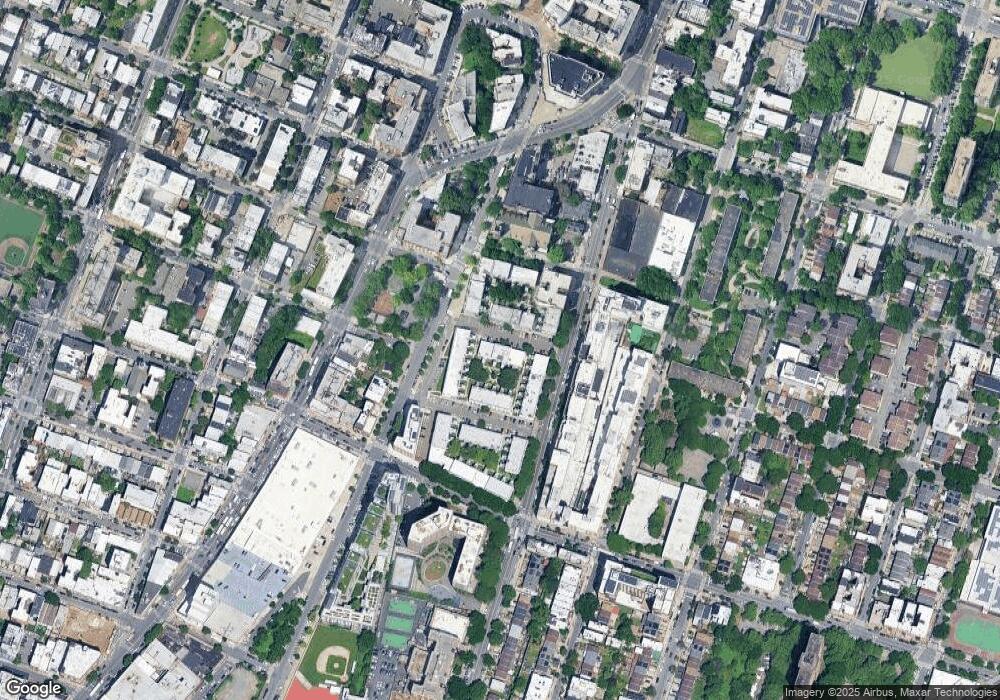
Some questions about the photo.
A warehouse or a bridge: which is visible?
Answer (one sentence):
Looking from above, you can make out a warehouse.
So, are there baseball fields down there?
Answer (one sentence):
Yes, I can see a baseball field in this picture.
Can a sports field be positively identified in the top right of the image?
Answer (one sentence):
Yes, a sports field is visible in the top right of the image.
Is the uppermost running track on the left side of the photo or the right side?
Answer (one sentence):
It is on the right.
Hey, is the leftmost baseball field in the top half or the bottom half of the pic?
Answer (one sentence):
The leftmost baseball field sits in the top half of the picture.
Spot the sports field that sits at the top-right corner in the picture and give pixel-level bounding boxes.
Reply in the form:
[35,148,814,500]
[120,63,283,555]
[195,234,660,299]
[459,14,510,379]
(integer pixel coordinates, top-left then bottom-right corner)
[875,32,944,101]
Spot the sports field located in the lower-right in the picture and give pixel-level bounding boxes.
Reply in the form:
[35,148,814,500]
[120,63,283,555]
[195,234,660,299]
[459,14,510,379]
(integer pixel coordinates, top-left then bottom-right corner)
[956,612,1000,654]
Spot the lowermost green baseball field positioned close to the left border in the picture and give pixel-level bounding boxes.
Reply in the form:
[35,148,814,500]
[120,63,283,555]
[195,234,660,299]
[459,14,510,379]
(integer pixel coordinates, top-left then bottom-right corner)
[0,197,45,268]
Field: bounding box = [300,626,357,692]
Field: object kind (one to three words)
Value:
baseball field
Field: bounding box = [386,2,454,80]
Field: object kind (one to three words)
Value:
building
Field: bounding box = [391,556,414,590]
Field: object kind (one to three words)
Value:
sports court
